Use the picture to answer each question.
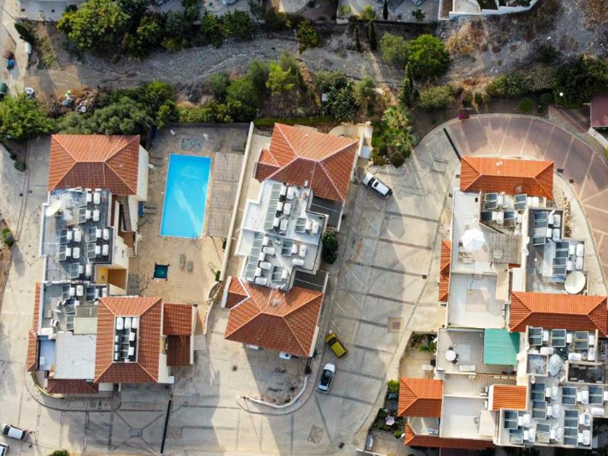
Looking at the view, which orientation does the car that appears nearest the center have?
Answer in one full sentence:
The car that appears nearest the center has been laid out at an angle relative to the frame.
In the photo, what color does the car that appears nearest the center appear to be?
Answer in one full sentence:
In this view, the car that appears nearest the center is white.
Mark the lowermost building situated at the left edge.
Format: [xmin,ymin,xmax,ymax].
[27,134,198,394]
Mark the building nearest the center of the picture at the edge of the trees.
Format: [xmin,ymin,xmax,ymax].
[221,122,359,357]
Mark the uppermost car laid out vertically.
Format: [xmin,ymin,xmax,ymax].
[319,362,337,394]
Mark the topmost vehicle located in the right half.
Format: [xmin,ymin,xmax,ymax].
[362,172,392,198]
